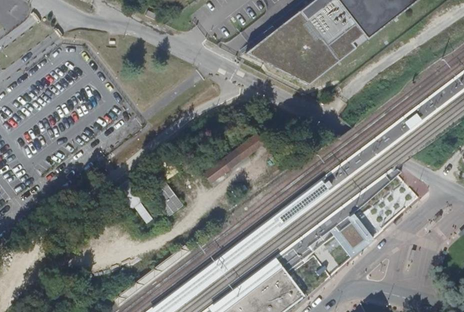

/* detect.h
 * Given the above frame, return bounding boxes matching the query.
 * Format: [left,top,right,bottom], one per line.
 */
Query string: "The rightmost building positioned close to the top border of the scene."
[248,0,418,85]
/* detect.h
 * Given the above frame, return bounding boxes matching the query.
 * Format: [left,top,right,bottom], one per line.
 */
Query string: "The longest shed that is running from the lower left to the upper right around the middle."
[204,135,261,185]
